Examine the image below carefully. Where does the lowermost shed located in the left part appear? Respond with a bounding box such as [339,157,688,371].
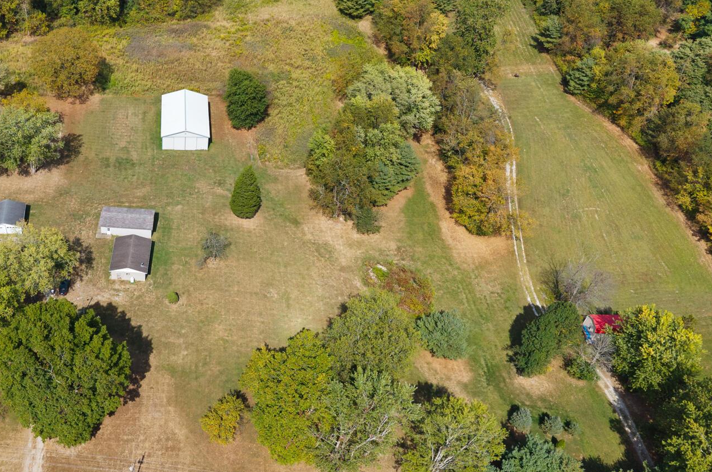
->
[109,232,153,280]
